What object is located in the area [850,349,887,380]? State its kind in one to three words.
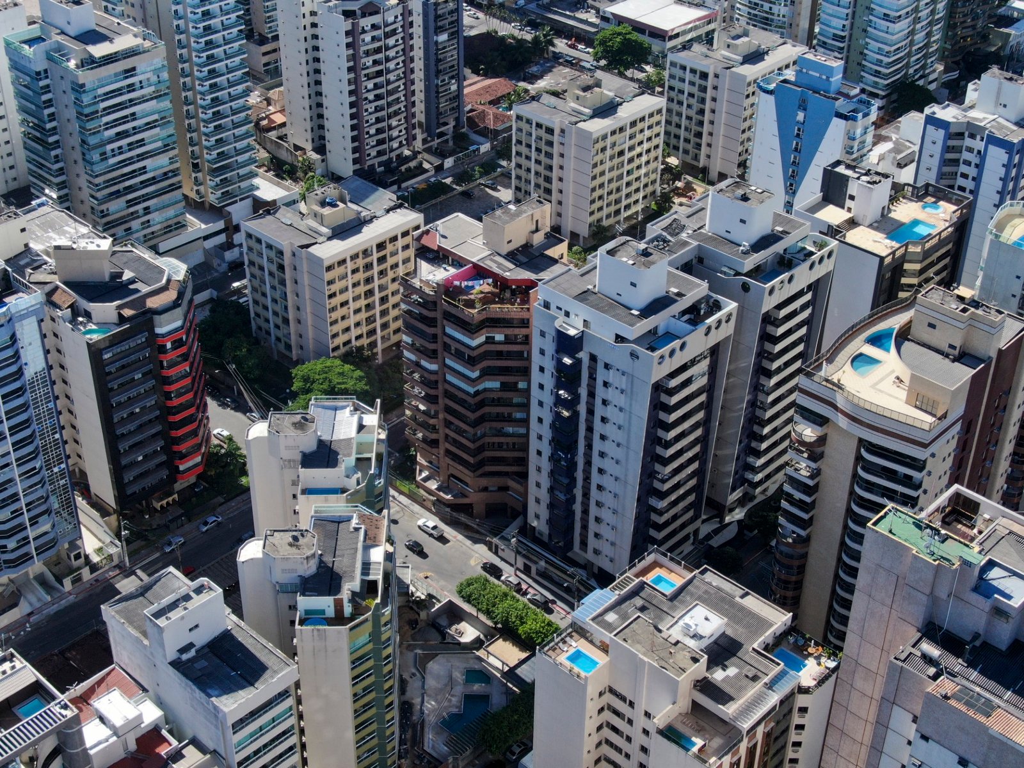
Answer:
swimming pool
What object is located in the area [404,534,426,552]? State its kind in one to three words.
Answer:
car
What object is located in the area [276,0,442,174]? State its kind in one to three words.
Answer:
building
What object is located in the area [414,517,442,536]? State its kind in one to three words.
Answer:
vehicle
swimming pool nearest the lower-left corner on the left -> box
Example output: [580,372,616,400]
[11,696,50,729]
